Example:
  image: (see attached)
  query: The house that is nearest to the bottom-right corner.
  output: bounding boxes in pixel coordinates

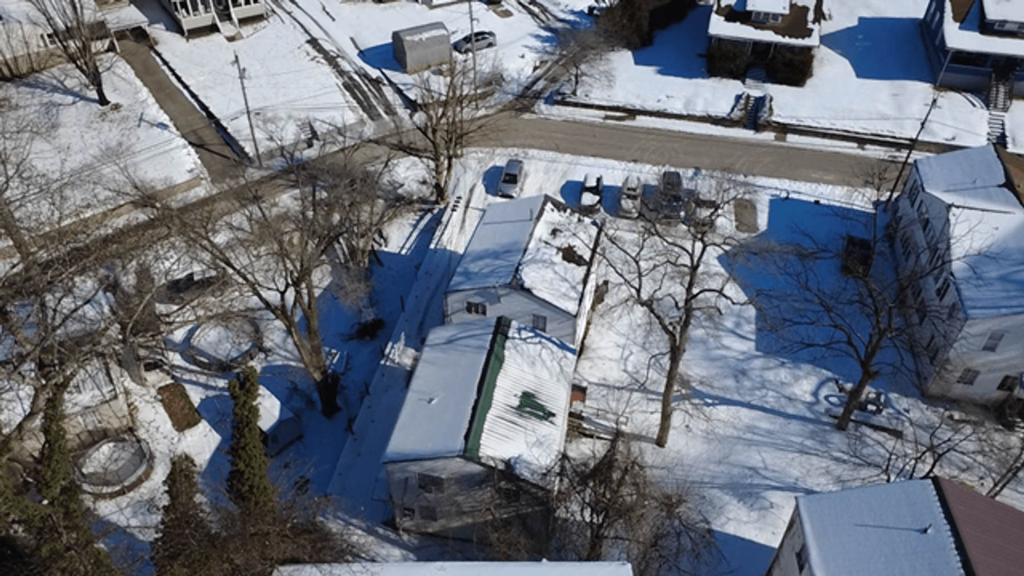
[756,467,1024,576]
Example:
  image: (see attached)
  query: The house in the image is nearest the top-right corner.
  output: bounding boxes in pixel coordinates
[925,0,1024,106]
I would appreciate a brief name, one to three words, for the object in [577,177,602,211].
car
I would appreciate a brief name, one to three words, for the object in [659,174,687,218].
car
